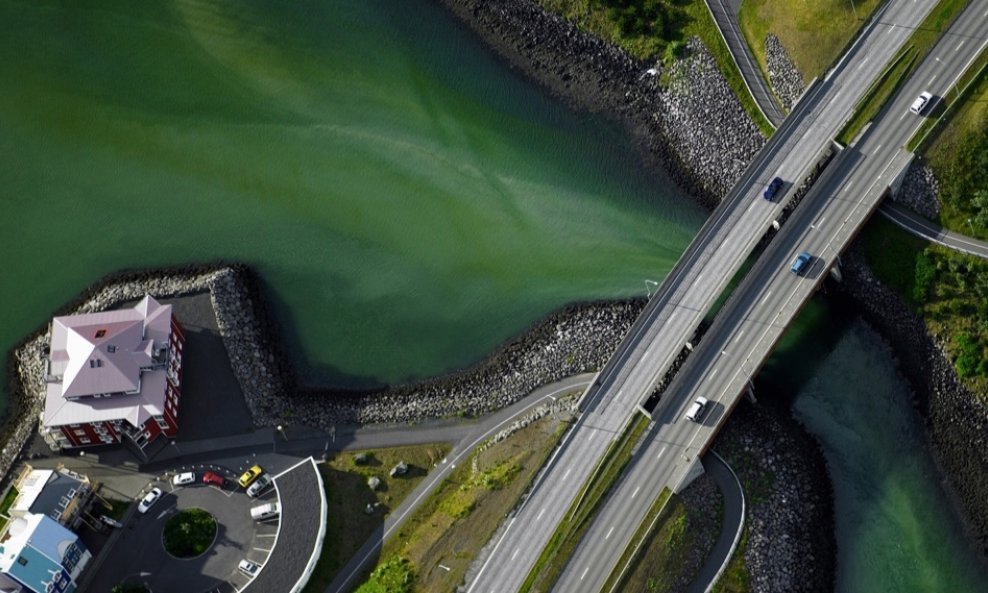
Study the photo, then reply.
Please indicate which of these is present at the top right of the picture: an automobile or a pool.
automobile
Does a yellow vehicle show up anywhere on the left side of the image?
Yes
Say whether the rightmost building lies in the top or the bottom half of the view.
bottom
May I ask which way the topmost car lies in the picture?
at an angle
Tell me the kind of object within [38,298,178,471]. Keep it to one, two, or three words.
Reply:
building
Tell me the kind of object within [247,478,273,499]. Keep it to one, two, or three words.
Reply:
car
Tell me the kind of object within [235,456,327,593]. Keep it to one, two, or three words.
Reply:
building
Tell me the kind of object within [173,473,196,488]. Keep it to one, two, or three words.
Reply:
car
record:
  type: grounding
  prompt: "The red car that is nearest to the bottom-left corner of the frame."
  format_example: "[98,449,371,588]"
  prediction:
[202,473,227,488]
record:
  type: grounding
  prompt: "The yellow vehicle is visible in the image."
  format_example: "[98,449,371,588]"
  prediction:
[236,466,263,488]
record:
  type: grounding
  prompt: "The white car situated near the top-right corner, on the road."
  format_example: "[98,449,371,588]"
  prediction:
[911,92,932,117]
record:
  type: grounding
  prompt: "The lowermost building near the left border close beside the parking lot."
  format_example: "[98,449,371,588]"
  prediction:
[0,511,97,593]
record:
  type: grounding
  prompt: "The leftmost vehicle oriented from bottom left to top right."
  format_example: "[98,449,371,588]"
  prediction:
[137,490,163,514]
